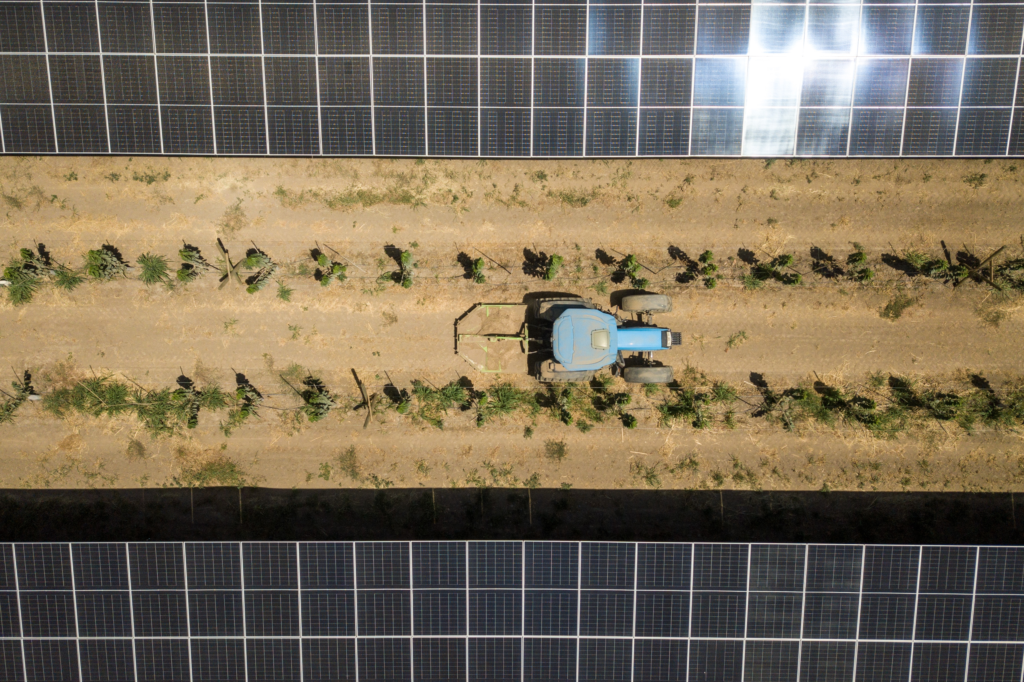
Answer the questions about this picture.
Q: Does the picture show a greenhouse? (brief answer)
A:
No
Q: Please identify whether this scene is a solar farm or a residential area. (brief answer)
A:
solar farm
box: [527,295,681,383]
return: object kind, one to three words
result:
work vehicle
